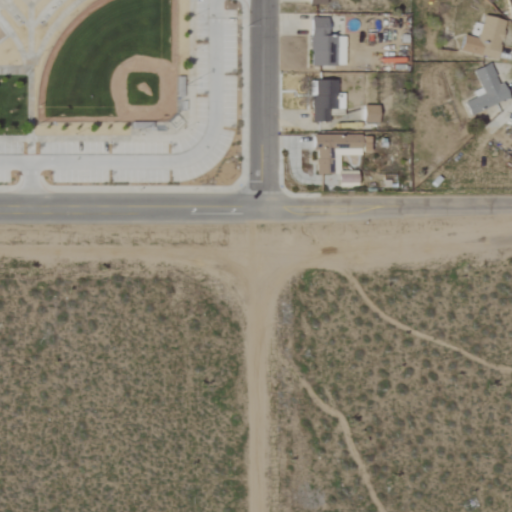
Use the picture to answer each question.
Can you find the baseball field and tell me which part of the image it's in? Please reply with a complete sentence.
You can find the baseball field in the top left area of the picture.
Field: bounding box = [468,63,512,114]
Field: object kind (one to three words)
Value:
house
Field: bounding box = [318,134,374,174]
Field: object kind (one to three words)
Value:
house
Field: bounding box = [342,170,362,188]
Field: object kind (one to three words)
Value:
building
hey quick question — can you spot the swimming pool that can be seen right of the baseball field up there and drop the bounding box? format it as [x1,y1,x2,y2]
[347,17,362,32]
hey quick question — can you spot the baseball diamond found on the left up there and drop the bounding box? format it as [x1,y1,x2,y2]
[36,0,179,122]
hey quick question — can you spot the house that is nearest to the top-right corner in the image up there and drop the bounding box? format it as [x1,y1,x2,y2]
[460,13,510,62]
